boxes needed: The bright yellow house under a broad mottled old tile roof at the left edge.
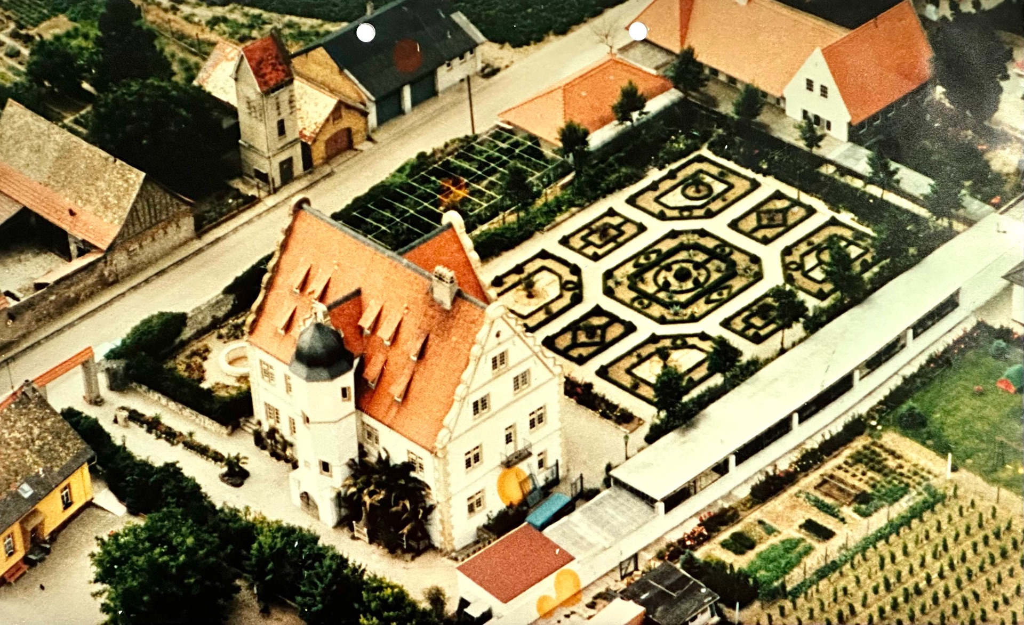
[0,373,98,588]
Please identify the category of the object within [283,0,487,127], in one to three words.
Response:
building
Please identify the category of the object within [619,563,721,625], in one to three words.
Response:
shed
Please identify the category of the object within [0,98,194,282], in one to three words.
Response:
barn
